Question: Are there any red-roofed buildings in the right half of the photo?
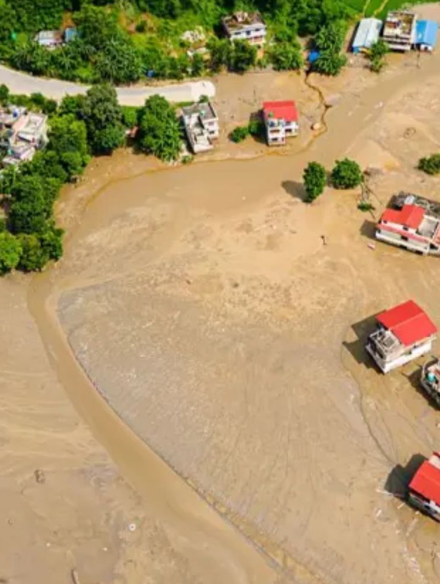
Yes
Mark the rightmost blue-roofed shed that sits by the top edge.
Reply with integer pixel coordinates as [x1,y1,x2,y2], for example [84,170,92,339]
[416,20,437,54]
